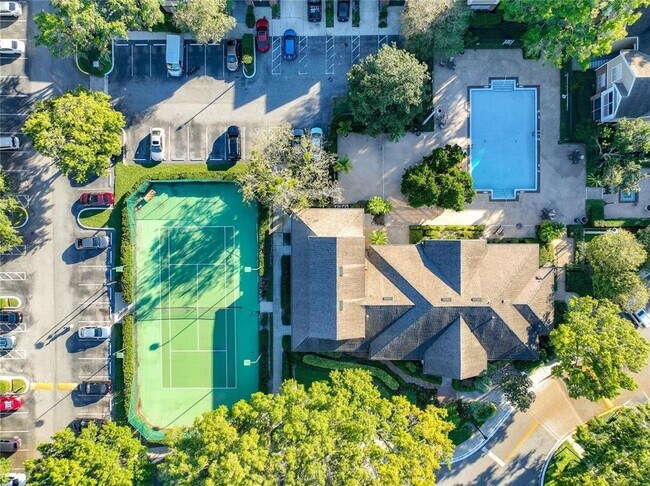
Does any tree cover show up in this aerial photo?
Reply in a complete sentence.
Yes, there's tree cover in this view.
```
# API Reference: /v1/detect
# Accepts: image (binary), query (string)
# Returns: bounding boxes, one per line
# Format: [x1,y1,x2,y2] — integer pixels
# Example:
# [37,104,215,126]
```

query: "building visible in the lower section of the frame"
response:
[290,208,554,381]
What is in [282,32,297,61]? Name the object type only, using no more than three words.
car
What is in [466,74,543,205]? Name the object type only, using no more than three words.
swimming pool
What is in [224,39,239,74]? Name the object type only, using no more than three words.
car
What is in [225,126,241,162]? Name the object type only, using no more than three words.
vehicle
